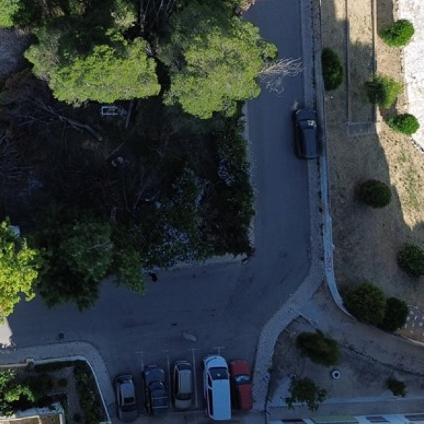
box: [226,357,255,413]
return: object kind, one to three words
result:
car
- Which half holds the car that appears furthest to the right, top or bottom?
top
